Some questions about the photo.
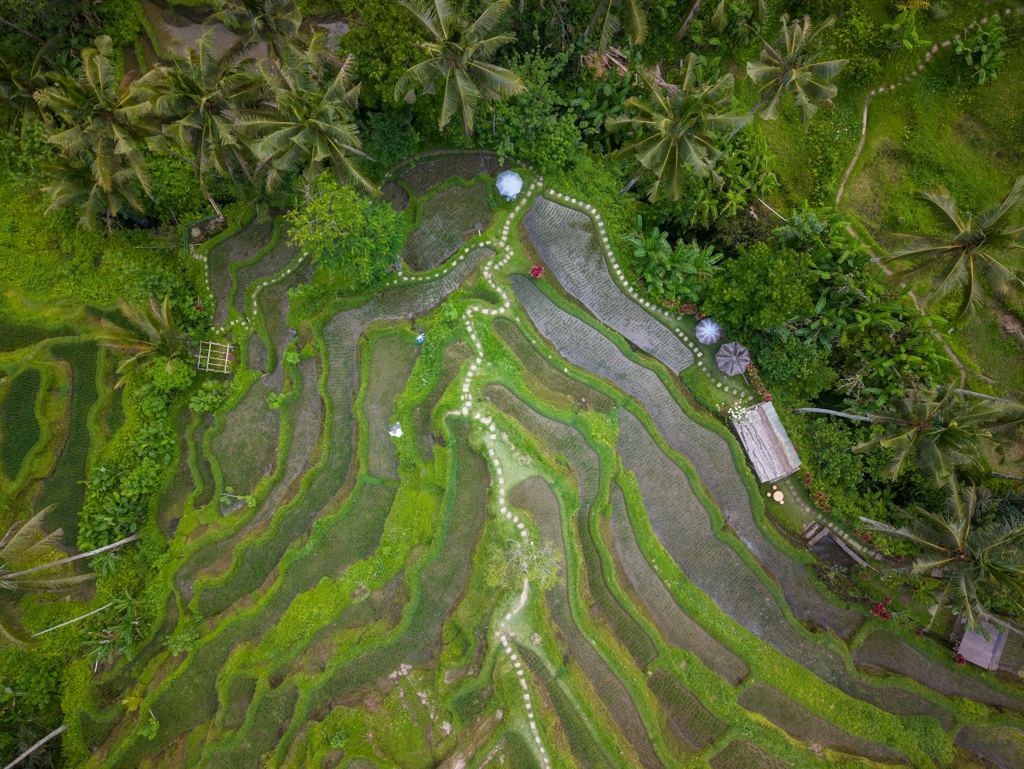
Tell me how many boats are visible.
0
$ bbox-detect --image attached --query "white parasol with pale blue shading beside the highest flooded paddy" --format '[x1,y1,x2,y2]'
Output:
[496,173,523,200]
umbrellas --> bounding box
[713,341,748,376]
[695,319,719,344]
[496,173,523,200]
